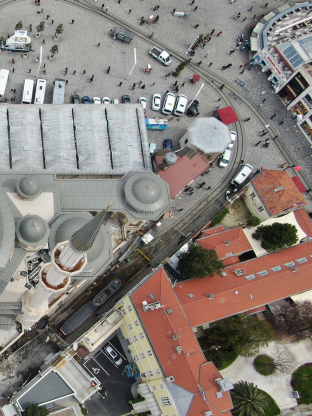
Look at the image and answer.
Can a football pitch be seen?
No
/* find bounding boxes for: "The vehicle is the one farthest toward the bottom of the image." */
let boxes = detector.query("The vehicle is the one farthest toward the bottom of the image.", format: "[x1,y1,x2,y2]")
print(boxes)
[103,343,124,366]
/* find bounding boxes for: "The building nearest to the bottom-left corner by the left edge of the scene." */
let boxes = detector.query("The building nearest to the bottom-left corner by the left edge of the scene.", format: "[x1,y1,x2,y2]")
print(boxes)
[0,371,75,416]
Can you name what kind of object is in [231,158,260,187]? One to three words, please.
vehicle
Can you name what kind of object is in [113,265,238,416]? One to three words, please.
house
